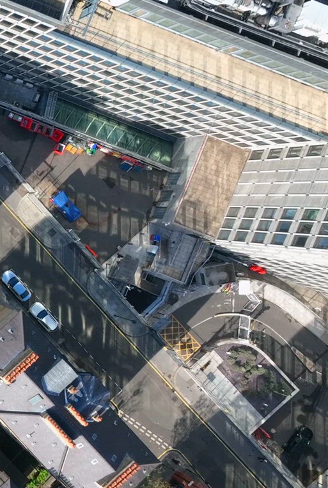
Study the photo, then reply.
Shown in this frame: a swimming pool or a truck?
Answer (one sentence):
There is a truck in the scene.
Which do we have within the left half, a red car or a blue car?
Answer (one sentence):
There is a blue car within the left half.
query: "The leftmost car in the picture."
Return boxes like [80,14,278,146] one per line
[0,268,35,305]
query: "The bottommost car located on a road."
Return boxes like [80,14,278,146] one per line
[284,421,315,463]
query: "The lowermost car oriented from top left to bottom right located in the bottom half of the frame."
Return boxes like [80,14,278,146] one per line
[28,299,62,335]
